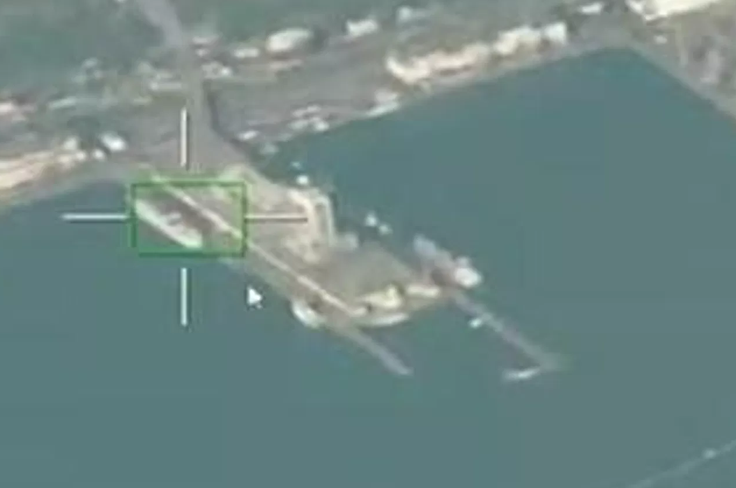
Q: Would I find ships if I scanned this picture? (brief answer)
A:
Yes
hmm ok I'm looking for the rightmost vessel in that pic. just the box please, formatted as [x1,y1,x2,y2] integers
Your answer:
[506,367,541,379]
